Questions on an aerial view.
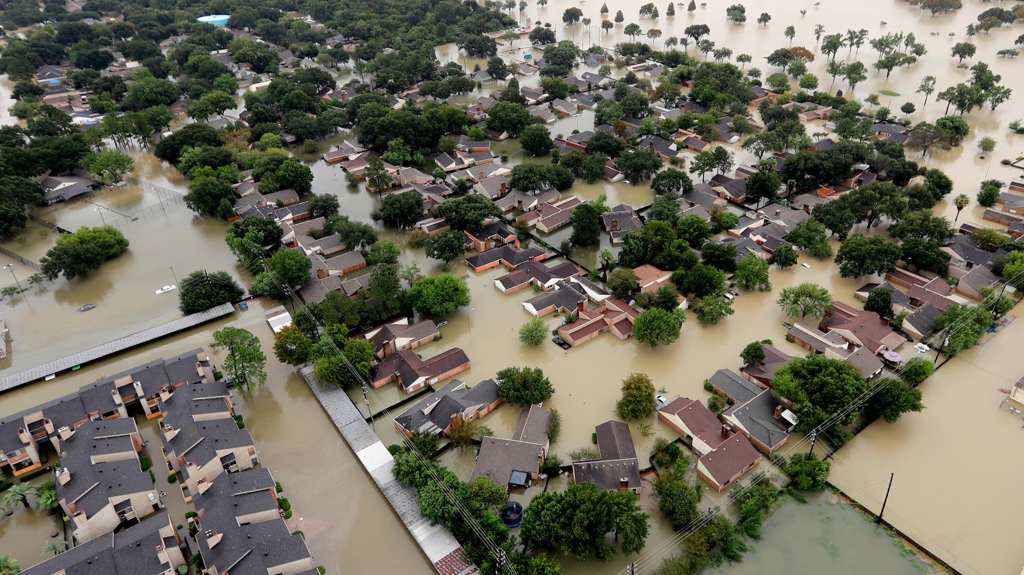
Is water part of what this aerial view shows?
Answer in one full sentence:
Yes, water shows up in the scene.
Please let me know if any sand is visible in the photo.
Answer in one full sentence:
No, the picture contains no sand.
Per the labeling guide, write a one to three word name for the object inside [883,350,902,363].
umbrella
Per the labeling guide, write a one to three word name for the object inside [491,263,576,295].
house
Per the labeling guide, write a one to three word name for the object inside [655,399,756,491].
house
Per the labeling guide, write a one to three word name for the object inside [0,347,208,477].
building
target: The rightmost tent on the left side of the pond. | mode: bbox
[505,469,535,499]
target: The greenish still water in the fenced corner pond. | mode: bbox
[670,486,941,575]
